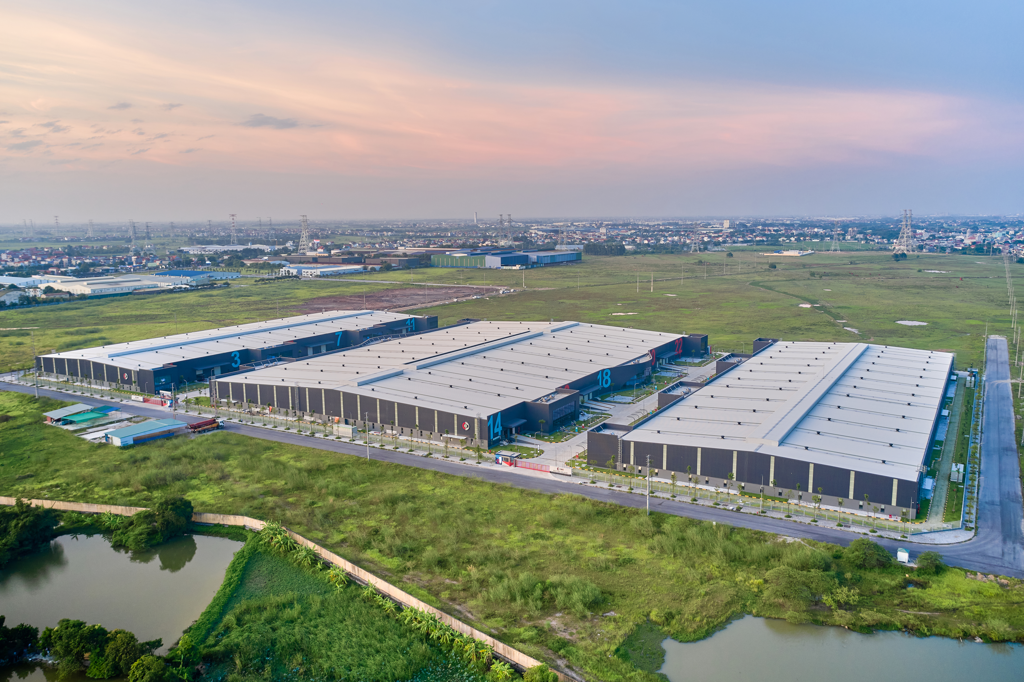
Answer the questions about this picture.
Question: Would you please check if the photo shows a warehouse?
Yes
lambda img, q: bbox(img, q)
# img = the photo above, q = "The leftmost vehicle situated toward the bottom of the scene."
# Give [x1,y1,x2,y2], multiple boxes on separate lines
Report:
[192,417,227,434]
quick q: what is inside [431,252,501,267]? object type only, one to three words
building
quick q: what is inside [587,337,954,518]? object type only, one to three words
warehouse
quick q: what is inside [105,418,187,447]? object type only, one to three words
shed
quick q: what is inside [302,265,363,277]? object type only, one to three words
building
